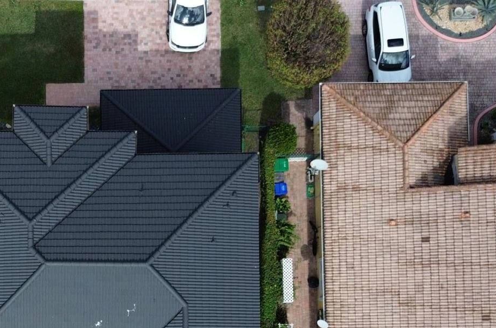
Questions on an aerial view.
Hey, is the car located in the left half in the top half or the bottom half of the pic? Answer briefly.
top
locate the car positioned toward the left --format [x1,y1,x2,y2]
[165,0,213,52]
